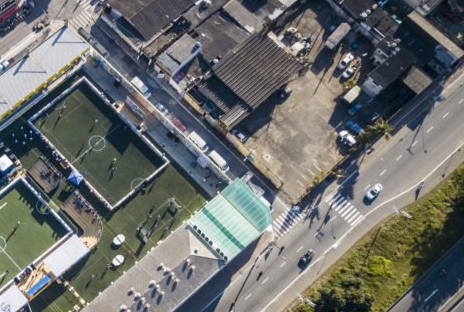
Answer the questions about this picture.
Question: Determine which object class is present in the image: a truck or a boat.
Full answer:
Looking from above, you can make out a truck.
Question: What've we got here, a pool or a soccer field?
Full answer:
It is a soccer field that can be seen here.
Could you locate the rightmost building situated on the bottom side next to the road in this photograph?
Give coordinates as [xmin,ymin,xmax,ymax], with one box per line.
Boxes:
[188,178,272,262]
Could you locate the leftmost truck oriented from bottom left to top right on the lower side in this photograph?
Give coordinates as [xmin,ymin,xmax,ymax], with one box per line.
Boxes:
[294,247,317,268]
